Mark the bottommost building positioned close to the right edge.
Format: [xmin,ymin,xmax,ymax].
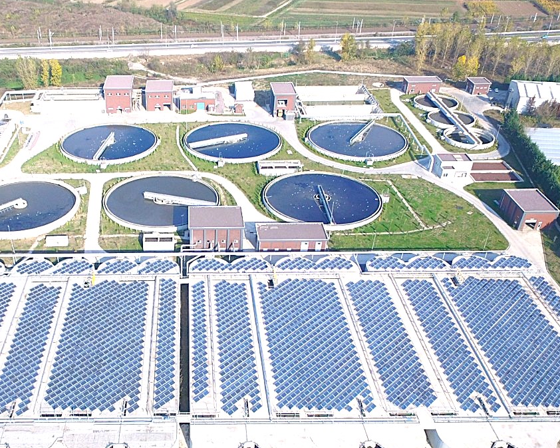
[499,188,560,230]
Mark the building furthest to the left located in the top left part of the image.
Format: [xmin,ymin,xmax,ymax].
[104,77,133,113]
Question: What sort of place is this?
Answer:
industrial area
